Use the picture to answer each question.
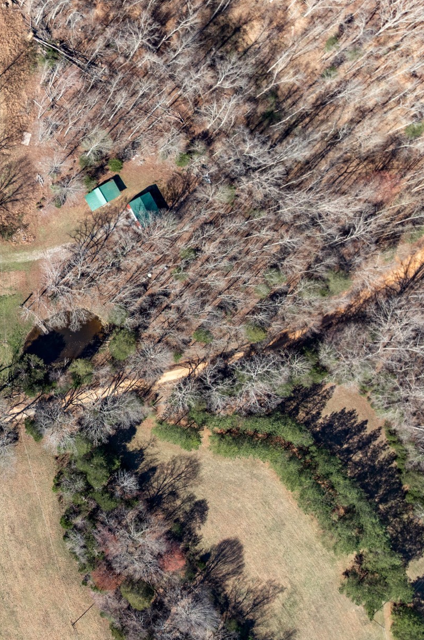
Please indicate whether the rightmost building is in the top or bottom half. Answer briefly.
top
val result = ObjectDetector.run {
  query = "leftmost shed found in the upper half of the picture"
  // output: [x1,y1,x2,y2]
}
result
[84,180,121,212]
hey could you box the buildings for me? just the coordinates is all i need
[84,180,121,212]
[127,192,164,231]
